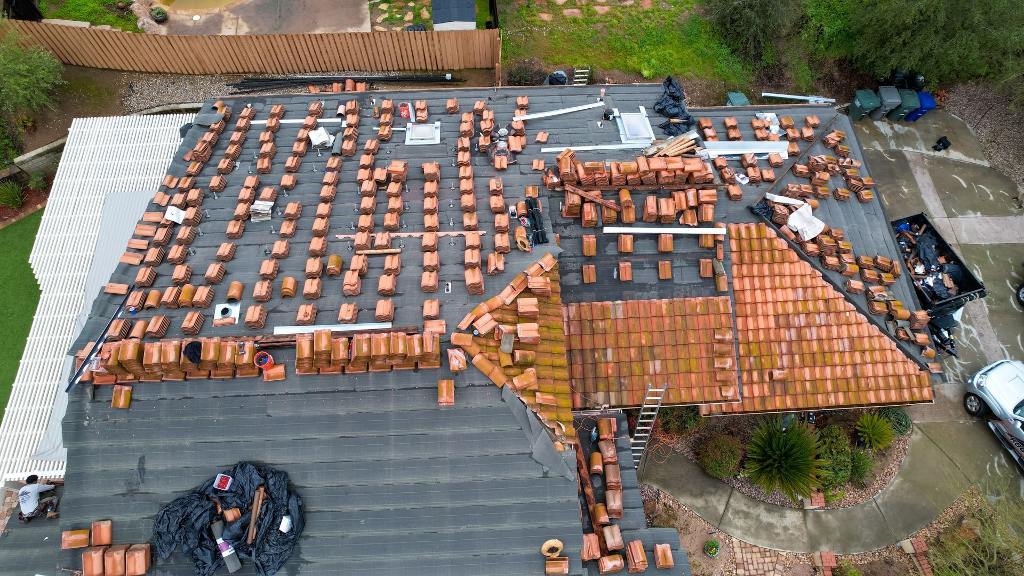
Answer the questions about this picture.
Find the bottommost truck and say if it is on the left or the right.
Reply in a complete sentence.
The bottommost truck appears in the right half of the scene.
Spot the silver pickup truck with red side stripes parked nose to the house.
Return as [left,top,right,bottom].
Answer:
[962,355,1024,490]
